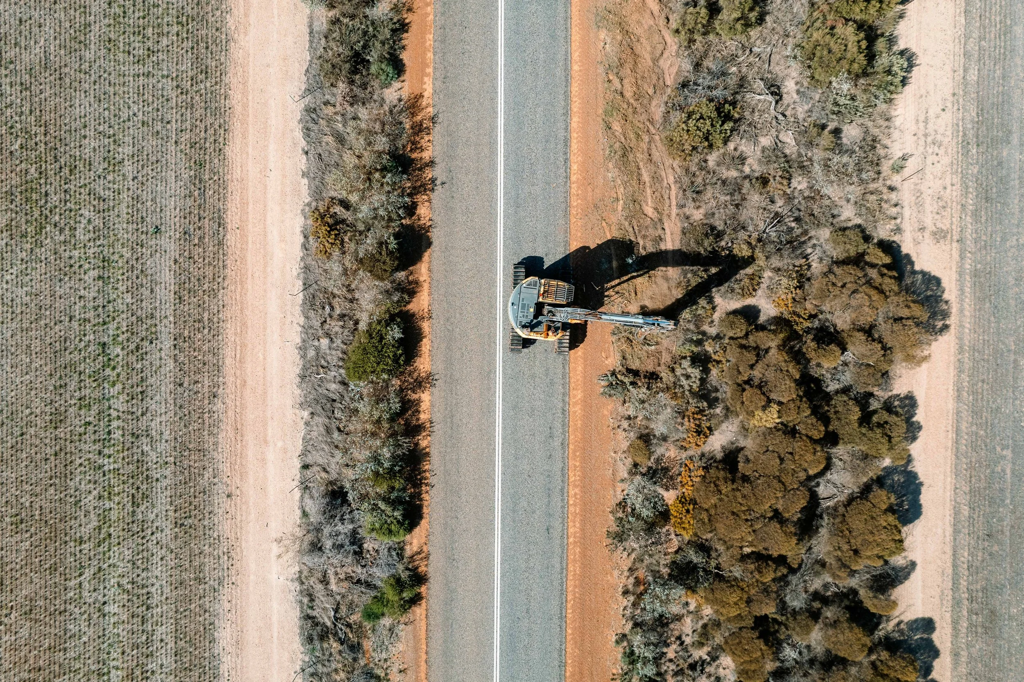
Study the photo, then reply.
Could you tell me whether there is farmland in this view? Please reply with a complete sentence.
Yes, there's farmland in this view.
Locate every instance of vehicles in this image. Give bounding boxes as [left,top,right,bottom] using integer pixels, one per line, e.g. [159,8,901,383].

[508,265,680,354]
